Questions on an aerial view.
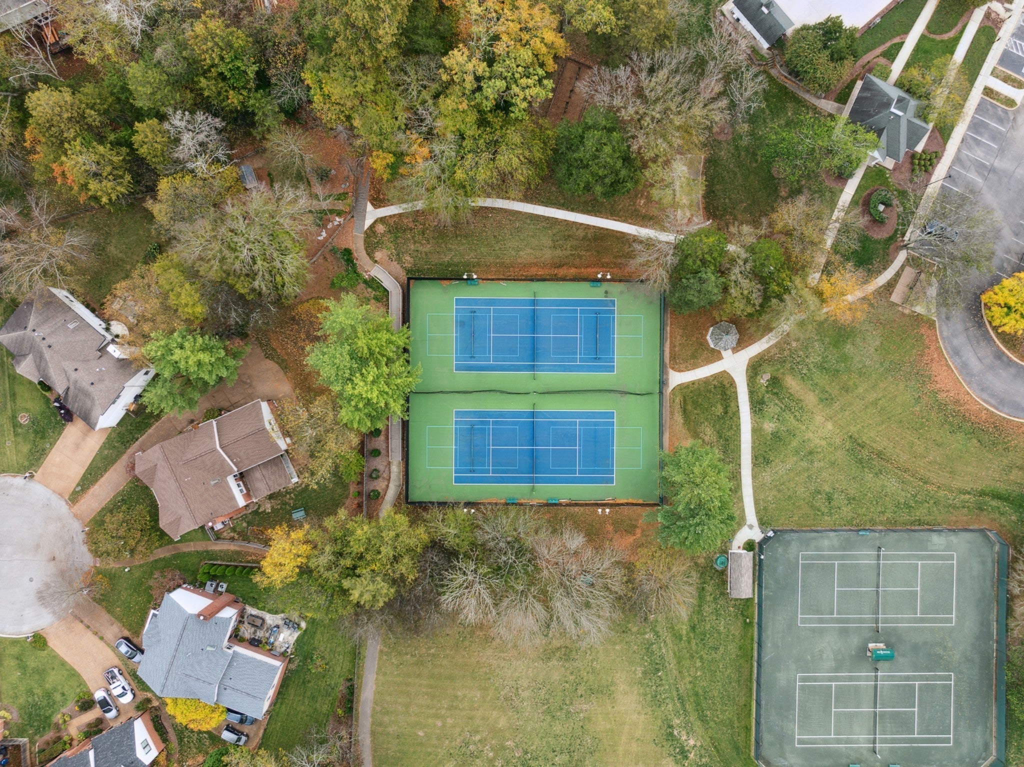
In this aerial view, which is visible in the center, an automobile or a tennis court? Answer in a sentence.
Looking in the center, you will find a tennis court.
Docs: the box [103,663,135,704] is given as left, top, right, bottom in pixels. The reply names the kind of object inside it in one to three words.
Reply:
truck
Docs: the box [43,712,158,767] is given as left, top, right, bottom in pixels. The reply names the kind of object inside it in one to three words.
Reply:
house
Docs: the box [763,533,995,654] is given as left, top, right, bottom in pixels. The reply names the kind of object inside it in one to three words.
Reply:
tennis court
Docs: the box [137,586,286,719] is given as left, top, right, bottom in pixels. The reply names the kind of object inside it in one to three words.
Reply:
house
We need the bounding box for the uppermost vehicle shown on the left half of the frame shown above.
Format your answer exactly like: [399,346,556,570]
[114,636,145,666]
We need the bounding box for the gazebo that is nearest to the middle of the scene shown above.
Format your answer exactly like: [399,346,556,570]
[704,320,740,353]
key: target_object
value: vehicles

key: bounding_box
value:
[114,636,145,666]
[103,663,135,704]
[223,707,258,728]
[94,687,120,720]
[217,723,251,745]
